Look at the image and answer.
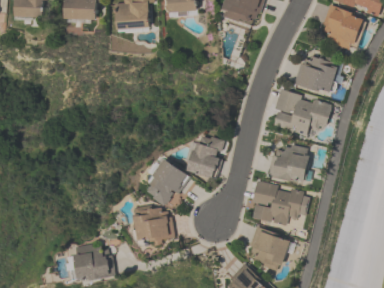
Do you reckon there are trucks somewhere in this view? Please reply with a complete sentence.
No, there isn't any truck down there.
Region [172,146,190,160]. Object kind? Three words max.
swimming pool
